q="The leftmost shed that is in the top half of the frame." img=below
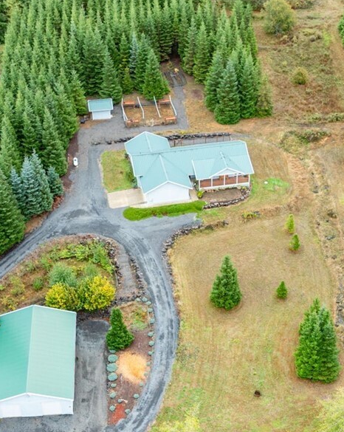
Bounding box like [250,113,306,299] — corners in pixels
[88,97,113,120]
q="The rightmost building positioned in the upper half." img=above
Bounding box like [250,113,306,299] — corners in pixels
[126,132,254,203]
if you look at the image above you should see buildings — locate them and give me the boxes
[126,132,254,203]
[0,304,77,418]
[88,97,113,120]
